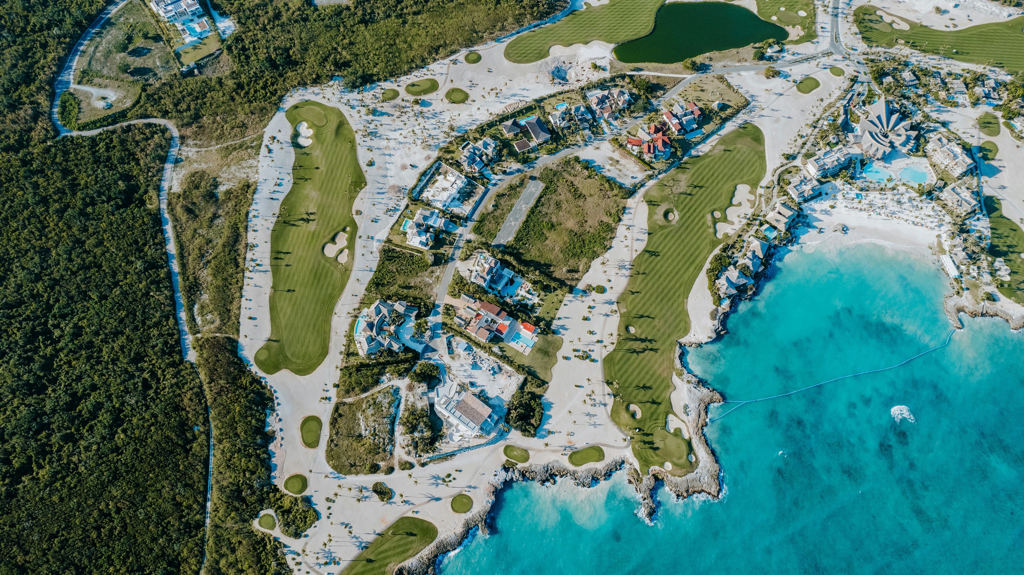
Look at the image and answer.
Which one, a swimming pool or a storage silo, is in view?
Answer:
swimming pool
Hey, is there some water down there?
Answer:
Yes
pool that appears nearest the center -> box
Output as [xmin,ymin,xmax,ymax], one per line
[501,280,524,297]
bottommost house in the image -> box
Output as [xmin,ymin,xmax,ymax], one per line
[436,382,498,442]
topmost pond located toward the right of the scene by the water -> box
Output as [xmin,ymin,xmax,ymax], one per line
[614,2,787,63]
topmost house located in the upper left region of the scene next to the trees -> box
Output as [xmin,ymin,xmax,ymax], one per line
[150,0,211,52]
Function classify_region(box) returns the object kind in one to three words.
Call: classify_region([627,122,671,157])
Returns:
house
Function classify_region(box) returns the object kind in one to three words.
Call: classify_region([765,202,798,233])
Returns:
building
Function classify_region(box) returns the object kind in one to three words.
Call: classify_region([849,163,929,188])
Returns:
swimming pool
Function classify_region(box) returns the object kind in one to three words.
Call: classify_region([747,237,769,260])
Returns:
house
